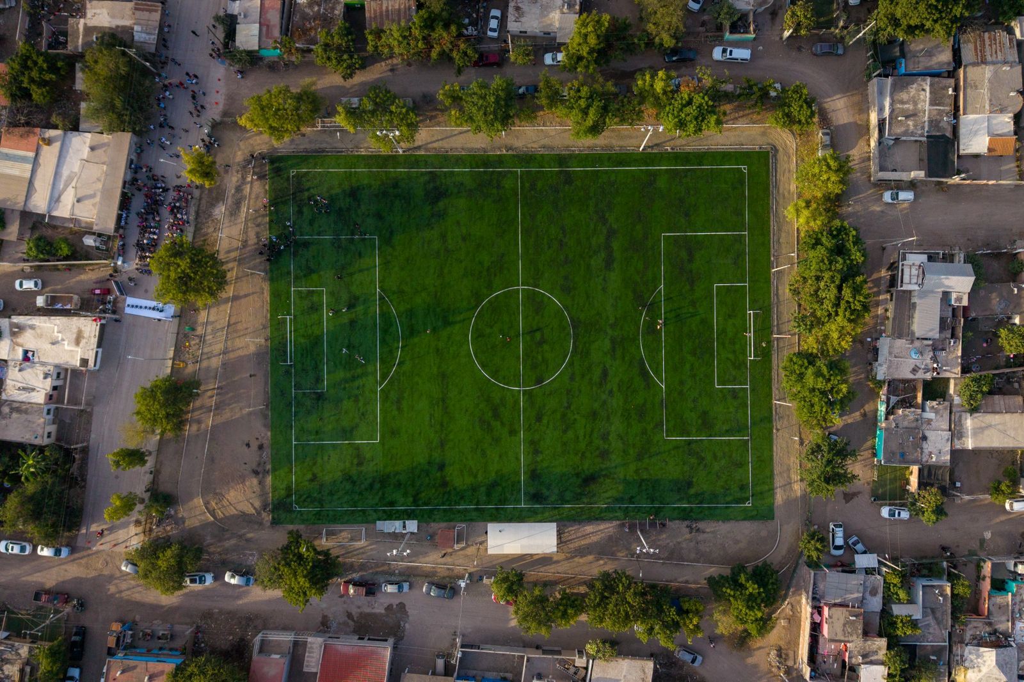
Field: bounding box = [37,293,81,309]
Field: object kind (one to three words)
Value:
vehicle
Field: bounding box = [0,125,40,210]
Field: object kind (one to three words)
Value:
house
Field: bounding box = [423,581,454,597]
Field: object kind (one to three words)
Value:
car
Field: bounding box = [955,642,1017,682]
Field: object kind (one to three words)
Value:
house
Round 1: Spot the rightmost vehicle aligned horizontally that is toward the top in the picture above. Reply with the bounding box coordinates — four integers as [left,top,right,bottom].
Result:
[881,189,914,203]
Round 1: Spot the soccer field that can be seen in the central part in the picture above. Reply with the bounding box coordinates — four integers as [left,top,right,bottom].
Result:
[267,149,776,526]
